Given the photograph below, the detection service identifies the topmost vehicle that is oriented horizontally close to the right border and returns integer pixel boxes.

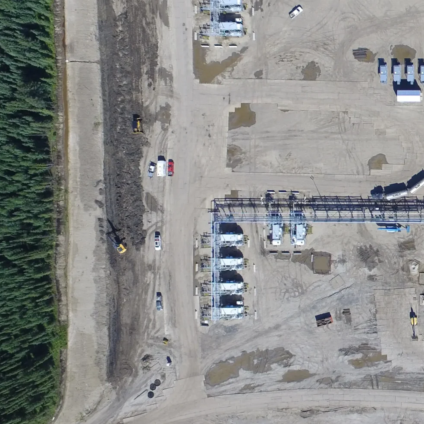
[371,184,410,200]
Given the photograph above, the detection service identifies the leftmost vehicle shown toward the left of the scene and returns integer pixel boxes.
[108,230,127,255]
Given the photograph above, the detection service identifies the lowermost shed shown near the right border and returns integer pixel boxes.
[396,88,423,104]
